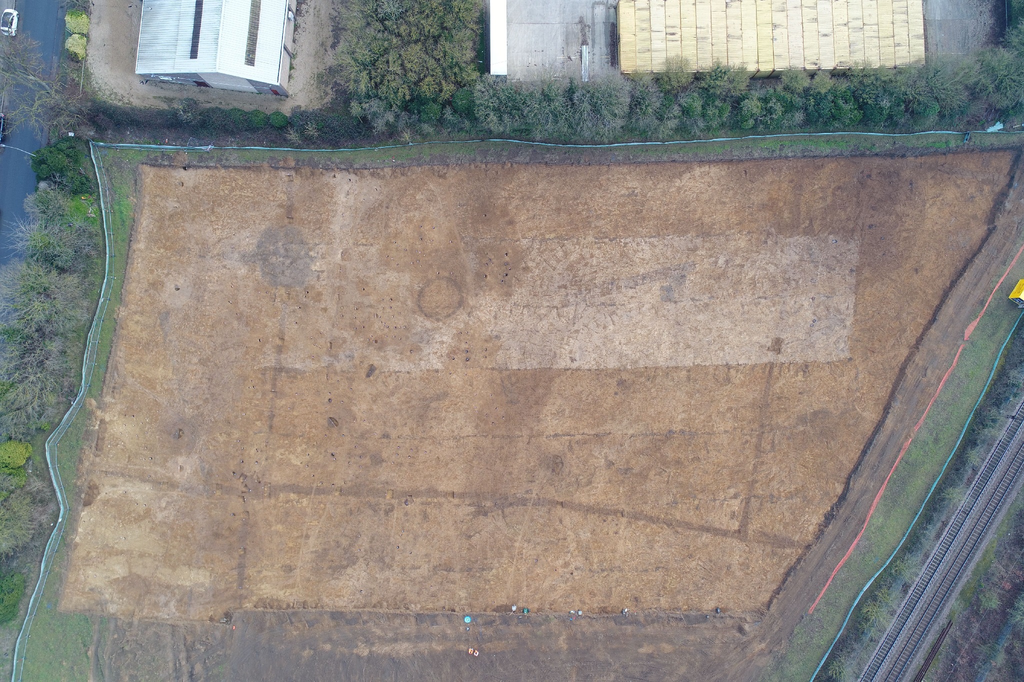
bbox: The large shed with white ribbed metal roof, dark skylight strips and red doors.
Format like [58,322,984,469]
[133,0,299,97]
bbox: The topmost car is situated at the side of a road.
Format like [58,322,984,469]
[3,9,20,36]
